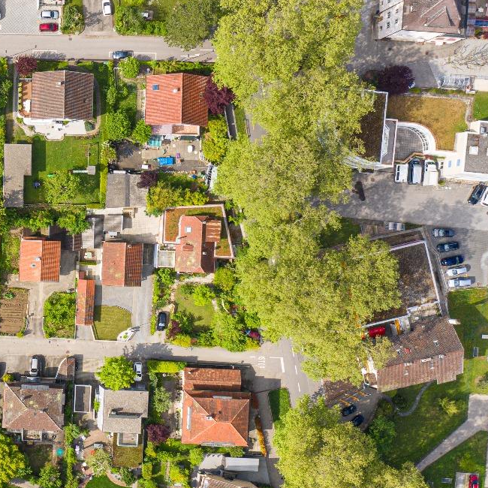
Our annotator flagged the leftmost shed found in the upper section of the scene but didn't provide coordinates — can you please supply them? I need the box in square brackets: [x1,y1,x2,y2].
[2,144,32,208]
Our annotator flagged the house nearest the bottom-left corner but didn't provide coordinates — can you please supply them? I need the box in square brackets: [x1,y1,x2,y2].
[1,384,65,440]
